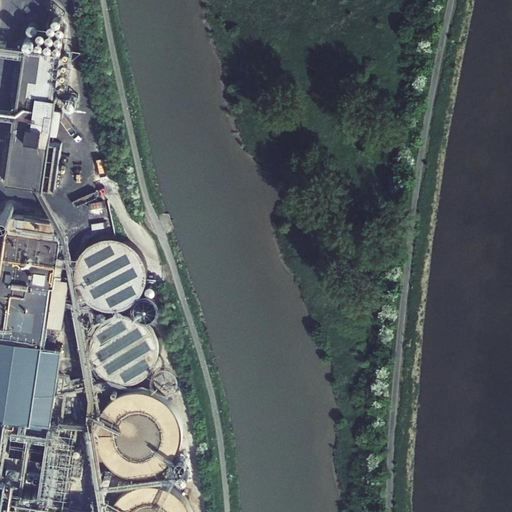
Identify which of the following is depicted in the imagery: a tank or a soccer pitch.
tank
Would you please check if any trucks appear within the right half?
No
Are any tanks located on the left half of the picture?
Yes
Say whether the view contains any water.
Yes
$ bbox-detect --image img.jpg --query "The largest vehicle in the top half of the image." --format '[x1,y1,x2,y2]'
[70,186,107,208]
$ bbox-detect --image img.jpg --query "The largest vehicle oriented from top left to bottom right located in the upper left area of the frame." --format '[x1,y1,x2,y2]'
[60,116,81,142]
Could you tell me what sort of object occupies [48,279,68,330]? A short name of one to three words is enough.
shed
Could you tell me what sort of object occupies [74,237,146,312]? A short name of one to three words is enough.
storage tank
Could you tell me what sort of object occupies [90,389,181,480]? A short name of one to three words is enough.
storage tank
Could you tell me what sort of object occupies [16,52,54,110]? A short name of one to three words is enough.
building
